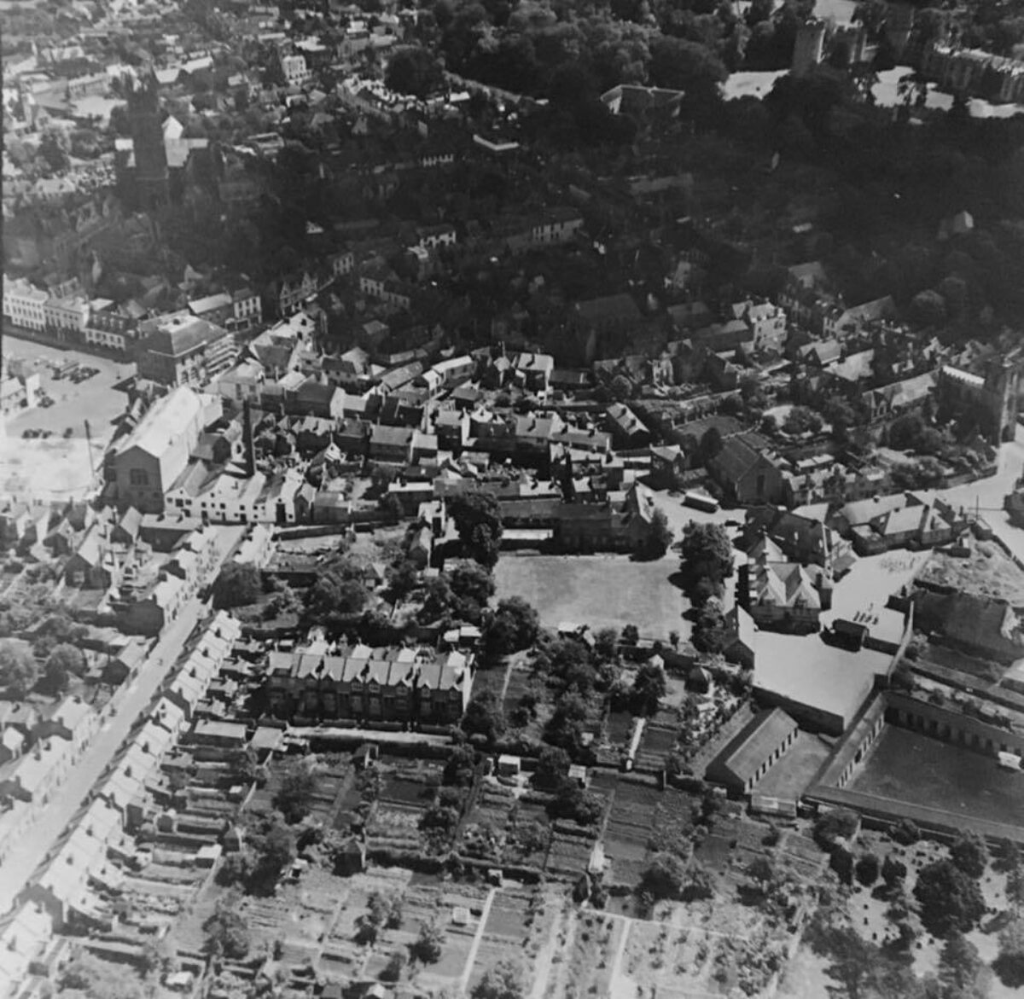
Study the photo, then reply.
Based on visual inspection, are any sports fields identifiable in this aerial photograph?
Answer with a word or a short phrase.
Yes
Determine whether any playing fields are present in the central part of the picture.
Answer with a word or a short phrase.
Yes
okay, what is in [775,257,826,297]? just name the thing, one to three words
house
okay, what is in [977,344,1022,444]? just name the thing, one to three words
building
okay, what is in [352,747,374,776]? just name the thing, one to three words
shed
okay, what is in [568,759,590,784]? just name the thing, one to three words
greenhouse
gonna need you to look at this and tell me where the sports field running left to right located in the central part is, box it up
[492,552,692,640]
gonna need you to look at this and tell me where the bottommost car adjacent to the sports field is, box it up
[666,539,686,551]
